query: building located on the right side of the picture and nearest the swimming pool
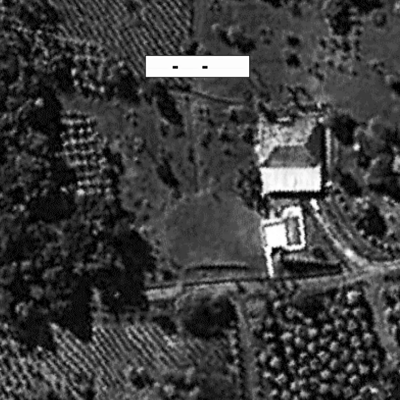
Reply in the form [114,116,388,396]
[266,224,286,247]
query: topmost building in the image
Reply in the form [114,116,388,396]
[259,118,320,167]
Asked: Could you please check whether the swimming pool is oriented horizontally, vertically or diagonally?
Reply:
vertically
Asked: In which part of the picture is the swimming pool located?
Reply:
right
